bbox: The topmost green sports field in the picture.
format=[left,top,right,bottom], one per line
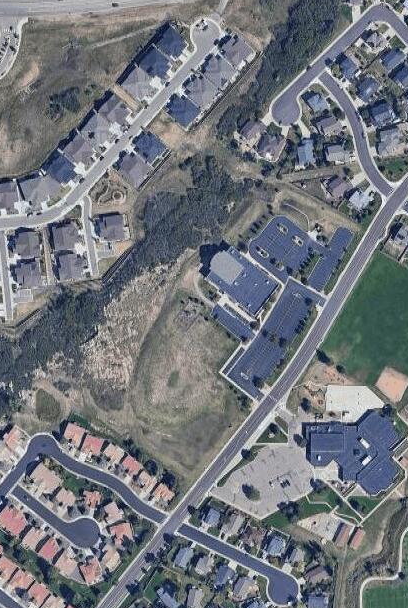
[321,251,408,408]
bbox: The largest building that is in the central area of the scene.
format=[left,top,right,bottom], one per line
[204,247,280,317]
